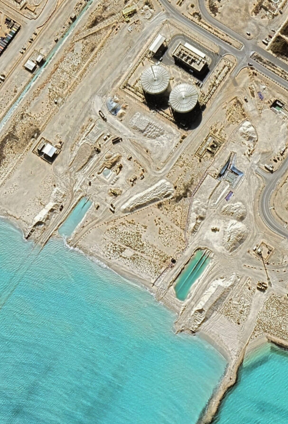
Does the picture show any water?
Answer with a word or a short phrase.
Yes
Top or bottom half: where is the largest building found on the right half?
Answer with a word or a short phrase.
top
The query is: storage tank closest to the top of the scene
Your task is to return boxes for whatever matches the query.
[139,64,171,97]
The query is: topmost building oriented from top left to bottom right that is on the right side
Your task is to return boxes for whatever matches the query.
[174,44,209,71]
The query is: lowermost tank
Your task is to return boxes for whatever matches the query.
[168,83,200,116]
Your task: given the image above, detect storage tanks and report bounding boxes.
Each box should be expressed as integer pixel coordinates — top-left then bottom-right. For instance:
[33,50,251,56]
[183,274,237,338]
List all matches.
[139,64,171,97]
[168,83,200,116]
